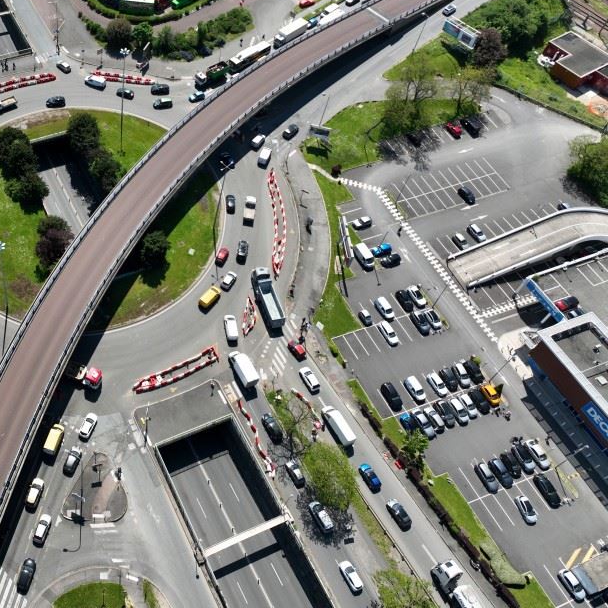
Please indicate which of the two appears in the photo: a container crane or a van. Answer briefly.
van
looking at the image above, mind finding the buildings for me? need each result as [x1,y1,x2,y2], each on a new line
[499,312,608,560]
[541,31,608,91]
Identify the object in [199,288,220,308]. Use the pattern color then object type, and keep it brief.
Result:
yellow vehicle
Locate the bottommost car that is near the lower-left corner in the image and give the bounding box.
[17,558,36,594]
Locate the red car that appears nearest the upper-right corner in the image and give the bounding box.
[444,124,462,139]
